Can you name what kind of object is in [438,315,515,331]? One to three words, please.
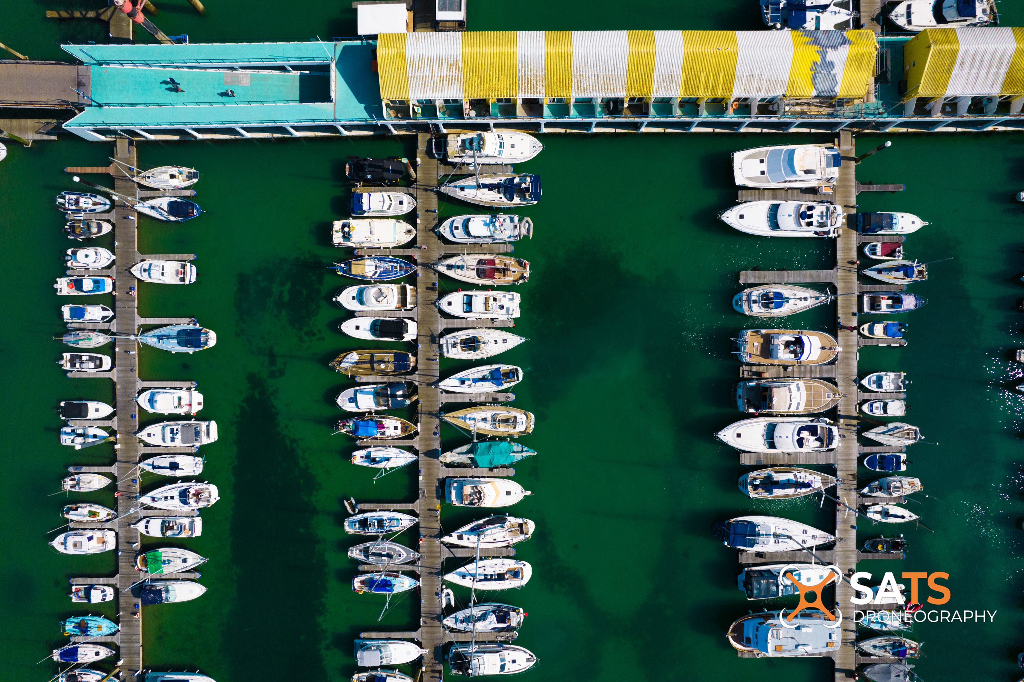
pier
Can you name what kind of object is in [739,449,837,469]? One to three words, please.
pier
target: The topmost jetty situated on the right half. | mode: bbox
[859,0,881,36]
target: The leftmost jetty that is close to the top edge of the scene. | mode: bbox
[47,0,134,42]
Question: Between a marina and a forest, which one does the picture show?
marina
